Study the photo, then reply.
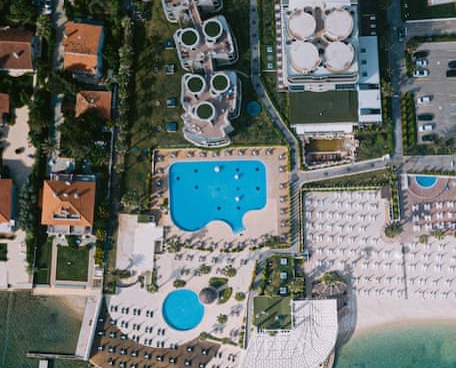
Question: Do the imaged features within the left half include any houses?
Yes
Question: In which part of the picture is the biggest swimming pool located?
center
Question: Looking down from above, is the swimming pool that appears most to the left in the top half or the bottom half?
bottom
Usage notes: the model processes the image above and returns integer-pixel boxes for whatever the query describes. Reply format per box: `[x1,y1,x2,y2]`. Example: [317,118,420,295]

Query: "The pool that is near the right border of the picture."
[414,176,439,189]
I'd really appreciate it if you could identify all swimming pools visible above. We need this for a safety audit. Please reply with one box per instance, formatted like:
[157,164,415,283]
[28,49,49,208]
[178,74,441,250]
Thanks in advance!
[414,176,439,189]
[160,287,206,333]
[166,157,269,234]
